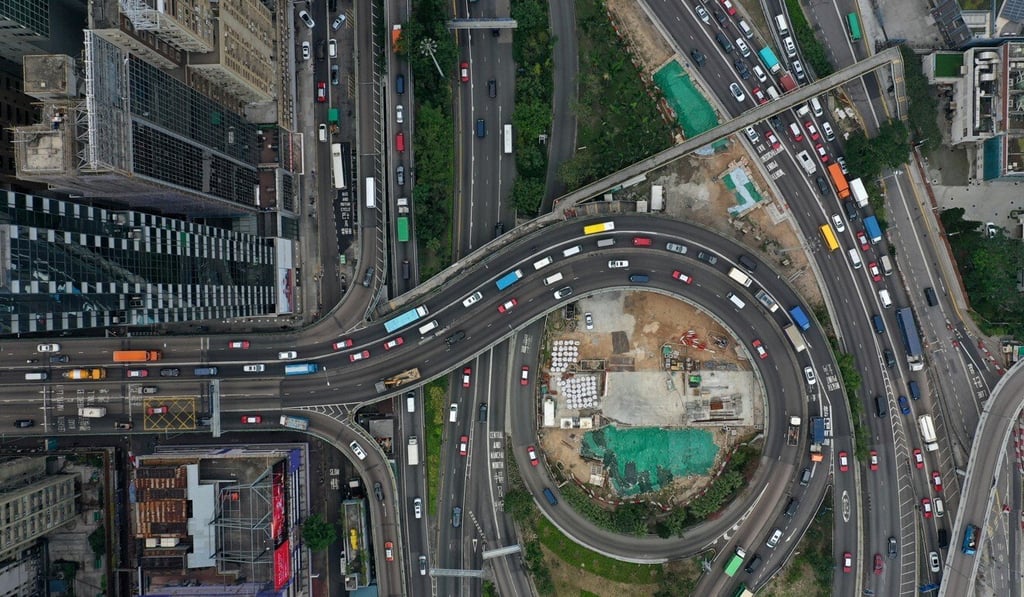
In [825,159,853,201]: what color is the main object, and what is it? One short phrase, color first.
orange truck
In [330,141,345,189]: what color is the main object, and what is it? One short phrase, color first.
white vehicle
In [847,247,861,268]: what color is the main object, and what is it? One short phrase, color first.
white vehicle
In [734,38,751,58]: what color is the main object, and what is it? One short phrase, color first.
white car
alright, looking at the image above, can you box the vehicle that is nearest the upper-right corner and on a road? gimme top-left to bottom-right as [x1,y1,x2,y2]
[845,11,864,42]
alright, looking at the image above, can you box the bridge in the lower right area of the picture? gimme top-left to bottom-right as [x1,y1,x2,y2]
[938,362,1024,597]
